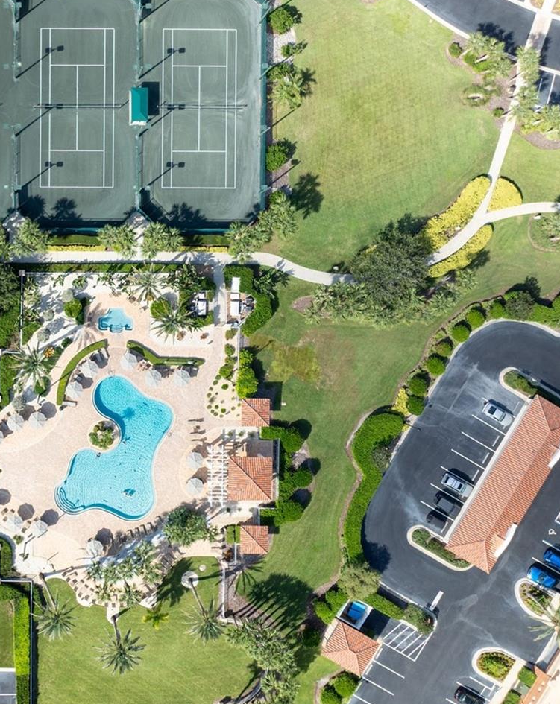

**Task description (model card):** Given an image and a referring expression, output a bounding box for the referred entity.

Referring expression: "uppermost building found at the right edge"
[439,395,560,575]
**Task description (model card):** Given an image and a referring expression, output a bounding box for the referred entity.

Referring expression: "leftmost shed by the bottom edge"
[319,614,382,677]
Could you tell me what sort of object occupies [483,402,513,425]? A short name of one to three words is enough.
car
